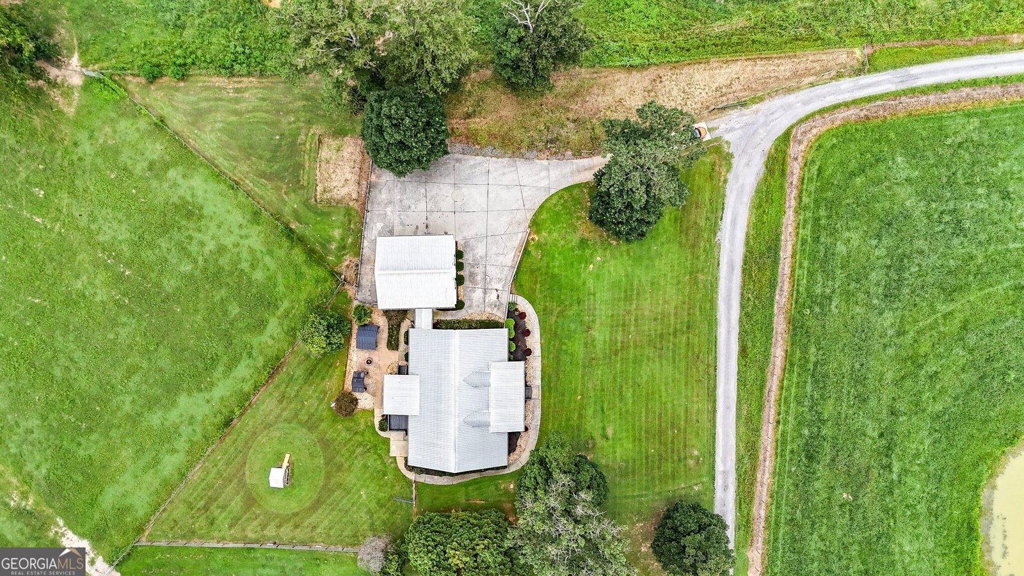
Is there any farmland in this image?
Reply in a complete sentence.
Yes, farmland can be seen from above here.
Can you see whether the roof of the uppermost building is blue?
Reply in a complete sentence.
No, the roof of the uppermost building is actually white.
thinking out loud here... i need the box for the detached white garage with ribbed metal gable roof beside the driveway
[374,234,457,310]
